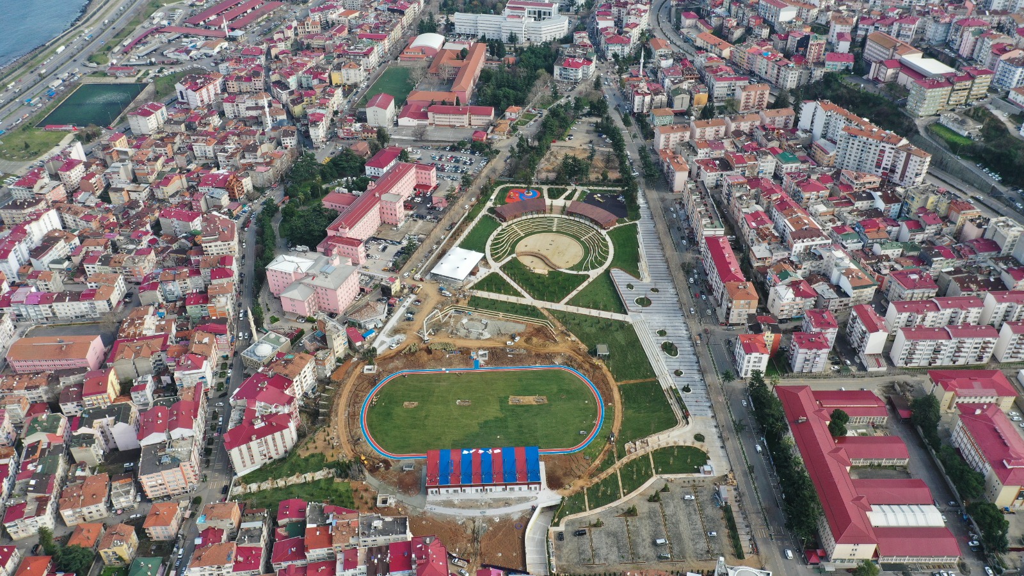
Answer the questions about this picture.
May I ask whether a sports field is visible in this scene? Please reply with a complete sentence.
Yes, looking at the shot, I can spot a sports field.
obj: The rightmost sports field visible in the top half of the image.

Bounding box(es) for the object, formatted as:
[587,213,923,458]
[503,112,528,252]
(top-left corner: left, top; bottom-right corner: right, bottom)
[354,66,413,107]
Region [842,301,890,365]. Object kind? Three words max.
building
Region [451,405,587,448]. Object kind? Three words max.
sports field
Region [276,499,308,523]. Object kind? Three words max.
house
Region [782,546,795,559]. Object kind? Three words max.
vehicle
